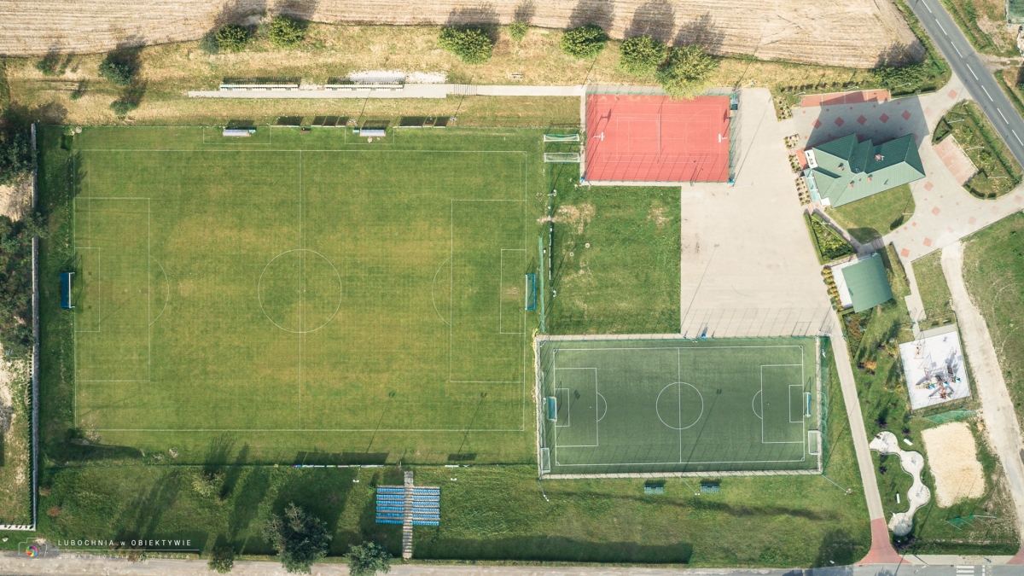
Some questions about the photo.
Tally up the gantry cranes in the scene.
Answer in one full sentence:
There are no gantry cranes in the image.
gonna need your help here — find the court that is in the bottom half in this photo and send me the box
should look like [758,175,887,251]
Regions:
[921,422,986,507]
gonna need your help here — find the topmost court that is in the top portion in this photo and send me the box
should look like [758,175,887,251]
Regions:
[585,95,729,182]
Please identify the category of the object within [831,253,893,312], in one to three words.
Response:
building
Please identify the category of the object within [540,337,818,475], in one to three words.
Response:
soccer field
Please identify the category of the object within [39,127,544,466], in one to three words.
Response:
soccer field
